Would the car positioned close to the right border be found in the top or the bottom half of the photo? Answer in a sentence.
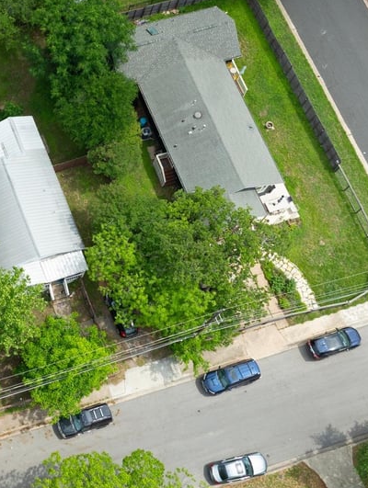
The car positioned close to the right border sits in the bottom half of the picture.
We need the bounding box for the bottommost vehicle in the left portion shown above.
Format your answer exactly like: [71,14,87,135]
[55,403,114,440]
